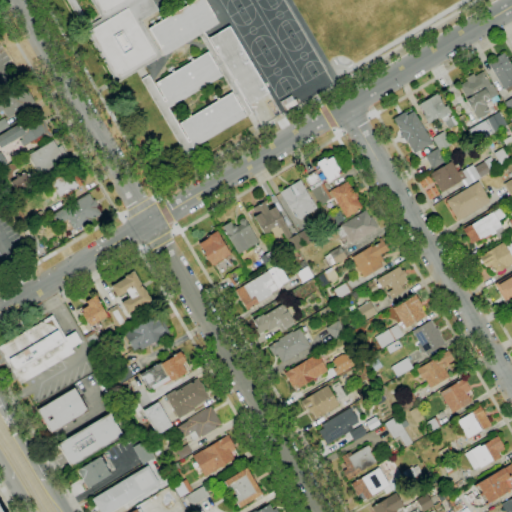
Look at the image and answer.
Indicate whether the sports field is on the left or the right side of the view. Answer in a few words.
right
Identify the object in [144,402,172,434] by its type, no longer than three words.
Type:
building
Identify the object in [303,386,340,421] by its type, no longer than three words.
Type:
house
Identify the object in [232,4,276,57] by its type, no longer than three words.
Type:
basketball court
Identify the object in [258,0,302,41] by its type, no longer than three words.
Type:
basketball court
